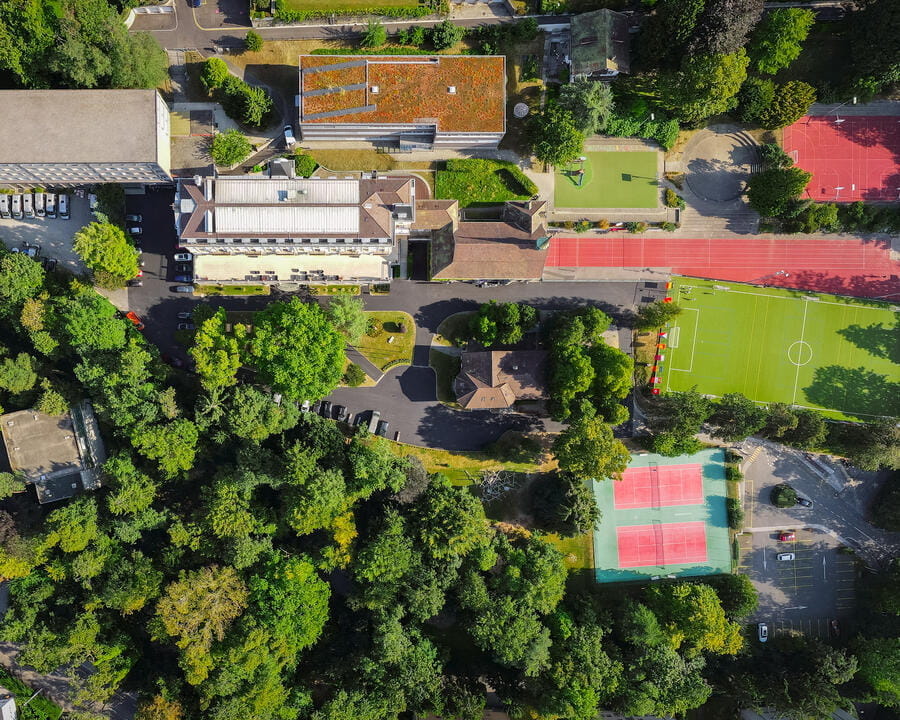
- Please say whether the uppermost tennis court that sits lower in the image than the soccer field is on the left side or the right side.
right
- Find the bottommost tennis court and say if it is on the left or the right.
right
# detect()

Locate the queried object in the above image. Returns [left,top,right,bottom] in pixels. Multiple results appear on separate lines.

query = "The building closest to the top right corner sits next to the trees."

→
[566,8,629,82]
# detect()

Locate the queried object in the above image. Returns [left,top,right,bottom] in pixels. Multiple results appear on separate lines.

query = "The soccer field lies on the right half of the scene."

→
[652,277,900,423]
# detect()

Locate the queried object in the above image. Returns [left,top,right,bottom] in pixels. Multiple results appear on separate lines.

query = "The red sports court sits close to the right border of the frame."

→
[784,116,900,203]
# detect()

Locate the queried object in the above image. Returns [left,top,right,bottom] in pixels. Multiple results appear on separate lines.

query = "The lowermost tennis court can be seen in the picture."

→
[617,521,708,569]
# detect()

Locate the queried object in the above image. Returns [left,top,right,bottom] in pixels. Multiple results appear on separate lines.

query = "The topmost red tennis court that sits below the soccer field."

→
[613,464,703,510]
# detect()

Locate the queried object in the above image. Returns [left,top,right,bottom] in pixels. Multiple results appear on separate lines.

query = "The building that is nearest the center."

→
[456,351,549,412]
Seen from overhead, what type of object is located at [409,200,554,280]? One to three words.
building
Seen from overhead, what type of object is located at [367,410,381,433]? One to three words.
vehicle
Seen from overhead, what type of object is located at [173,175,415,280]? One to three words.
building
